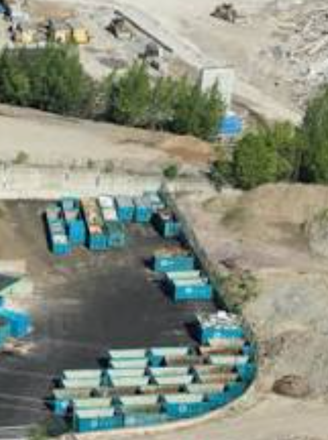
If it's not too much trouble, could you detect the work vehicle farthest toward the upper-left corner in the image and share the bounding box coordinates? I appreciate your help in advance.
[108,13,141,37]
